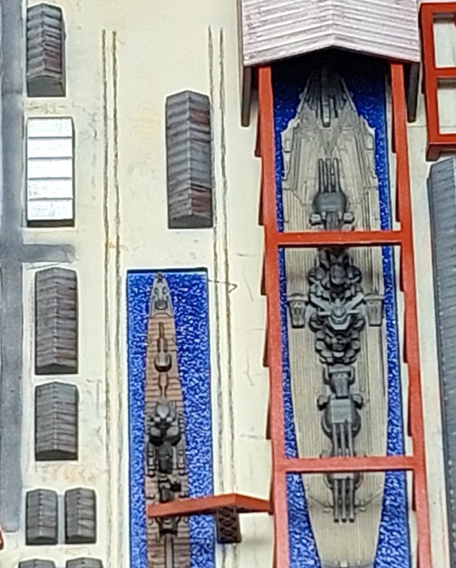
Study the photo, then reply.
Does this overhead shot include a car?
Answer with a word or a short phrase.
No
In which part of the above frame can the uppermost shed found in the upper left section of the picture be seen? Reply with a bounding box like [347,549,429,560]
[27,4,63,95]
